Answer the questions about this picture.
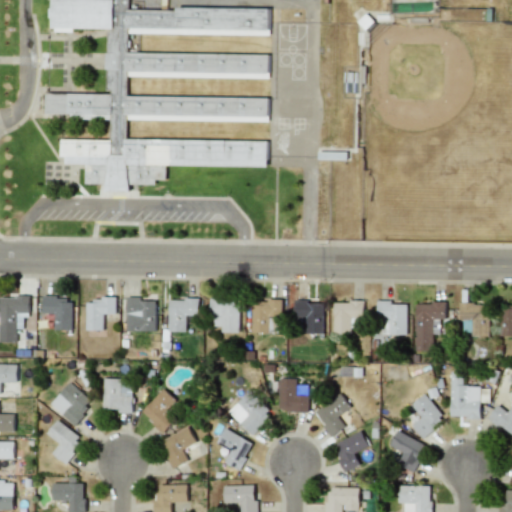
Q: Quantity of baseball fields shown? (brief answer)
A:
1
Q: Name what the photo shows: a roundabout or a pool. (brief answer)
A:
pool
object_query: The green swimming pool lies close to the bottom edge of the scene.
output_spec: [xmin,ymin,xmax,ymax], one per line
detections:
[38,484,52,508]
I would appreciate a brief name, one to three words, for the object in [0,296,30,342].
house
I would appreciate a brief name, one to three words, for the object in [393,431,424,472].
house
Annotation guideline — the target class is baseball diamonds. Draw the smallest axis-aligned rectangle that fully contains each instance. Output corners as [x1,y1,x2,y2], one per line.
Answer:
[368,24,475,134]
